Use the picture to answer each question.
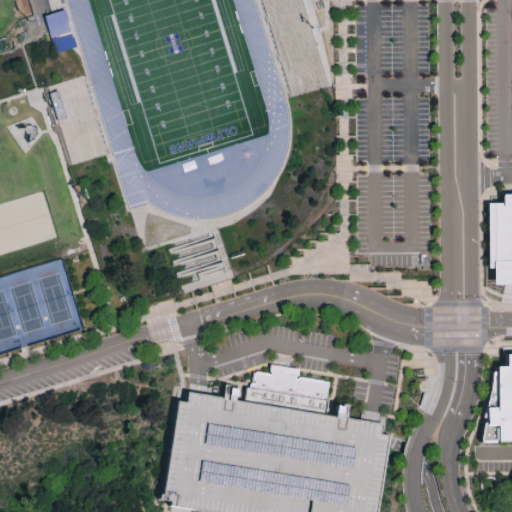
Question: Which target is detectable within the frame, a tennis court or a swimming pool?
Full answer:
The one in the frame is a tennis court.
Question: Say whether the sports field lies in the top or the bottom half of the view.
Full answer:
The sports field sits in the top half of the picture.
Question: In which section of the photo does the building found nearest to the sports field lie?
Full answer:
The building found nearest to the sports field appears toward the top left of the photo.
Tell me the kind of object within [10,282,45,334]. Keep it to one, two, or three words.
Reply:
tennis court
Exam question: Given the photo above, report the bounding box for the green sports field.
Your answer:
[89,0,269,170]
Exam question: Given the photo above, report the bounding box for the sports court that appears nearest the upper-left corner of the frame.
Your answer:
[0,192,57,254]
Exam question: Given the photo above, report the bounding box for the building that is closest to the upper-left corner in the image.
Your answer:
[46,10,72,38]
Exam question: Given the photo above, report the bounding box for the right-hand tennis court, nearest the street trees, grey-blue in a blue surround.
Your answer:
[38,273,74,325]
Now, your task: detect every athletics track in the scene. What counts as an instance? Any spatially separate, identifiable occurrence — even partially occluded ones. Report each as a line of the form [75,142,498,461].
[68,0,290,218]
